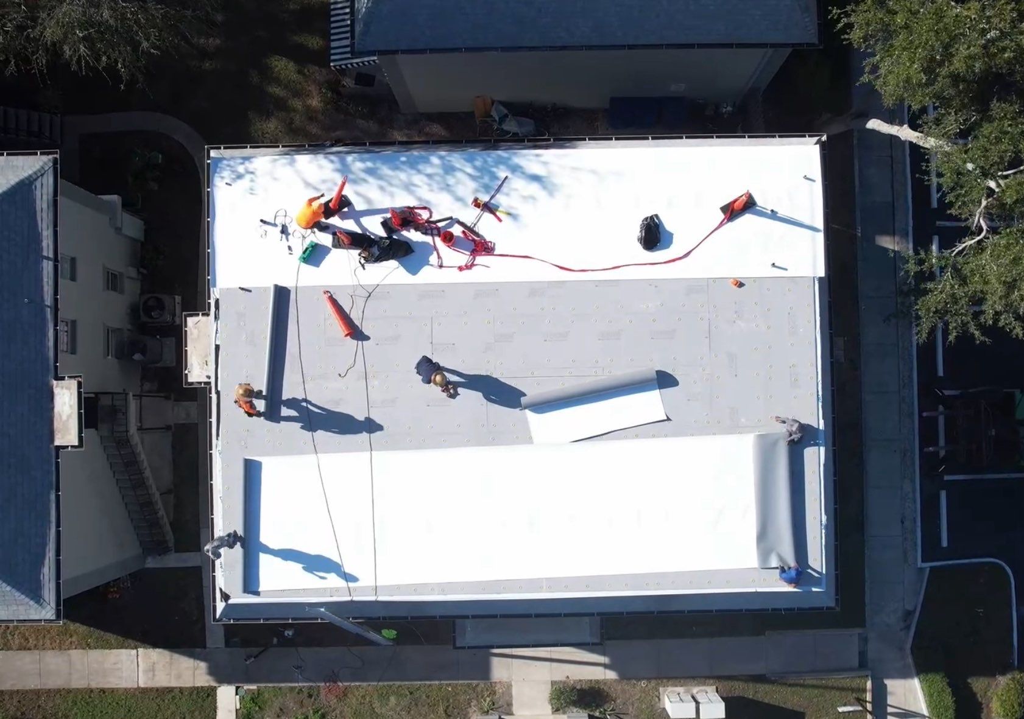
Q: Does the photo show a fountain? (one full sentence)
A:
No, this view has no fountain in it.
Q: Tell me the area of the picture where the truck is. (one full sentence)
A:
The truck appears toward the right of the photo.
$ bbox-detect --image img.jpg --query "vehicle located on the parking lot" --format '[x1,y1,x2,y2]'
[922,389,1024,474]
